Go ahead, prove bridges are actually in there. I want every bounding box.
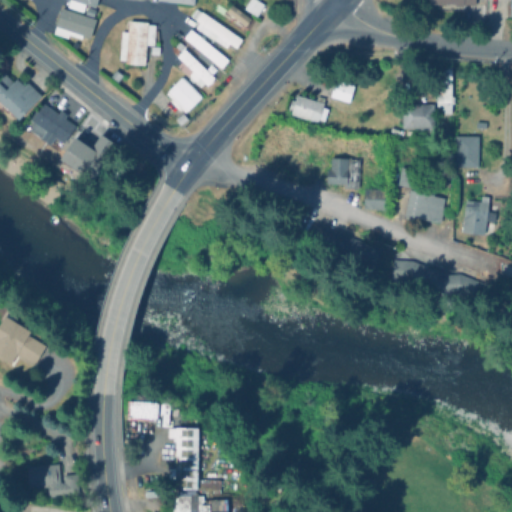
[92,184,190,394]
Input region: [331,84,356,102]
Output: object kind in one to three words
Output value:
building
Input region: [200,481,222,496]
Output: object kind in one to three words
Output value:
shed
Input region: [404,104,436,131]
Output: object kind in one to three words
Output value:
house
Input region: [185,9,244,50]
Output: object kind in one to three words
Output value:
house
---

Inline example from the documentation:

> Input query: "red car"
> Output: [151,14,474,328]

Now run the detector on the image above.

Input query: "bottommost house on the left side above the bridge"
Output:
[61,136,113,170]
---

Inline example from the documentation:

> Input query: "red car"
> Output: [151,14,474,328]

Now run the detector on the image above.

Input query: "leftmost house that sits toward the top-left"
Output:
[0,74,44,120]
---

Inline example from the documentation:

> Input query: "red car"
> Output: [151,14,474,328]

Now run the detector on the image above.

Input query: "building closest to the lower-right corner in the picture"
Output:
[446,273,482,296]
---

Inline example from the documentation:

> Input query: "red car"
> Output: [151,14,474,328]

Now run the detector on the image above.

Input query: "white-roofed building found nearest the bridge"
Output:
[130,402,158,420]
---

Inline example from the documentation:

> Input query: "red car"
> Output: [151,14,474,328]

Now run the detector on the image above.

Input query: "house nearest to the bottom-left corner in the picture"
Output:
[45,464,80,498]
